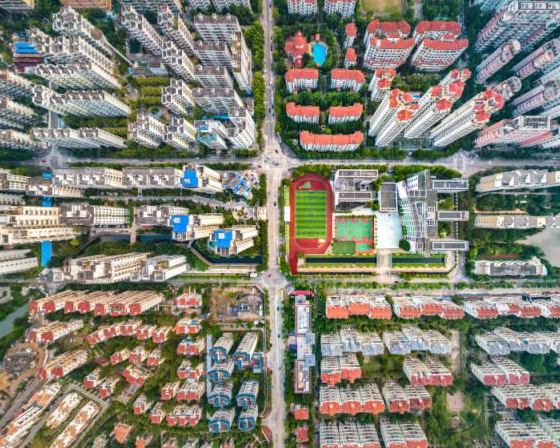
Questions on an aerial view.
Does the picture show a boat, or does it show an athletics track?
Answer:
athletics track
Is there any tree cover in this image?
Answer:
Yes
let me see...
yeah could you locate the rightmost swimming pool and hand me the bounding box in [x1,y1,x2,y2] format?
[309,41,329,65]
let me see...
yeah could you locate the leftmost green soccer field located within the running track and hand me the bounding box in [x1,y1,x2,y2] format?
[296,190,326,238]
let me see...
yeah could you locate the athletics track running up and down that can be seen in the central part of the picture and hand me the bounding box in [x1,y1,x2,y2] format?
[290,174,334,274]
